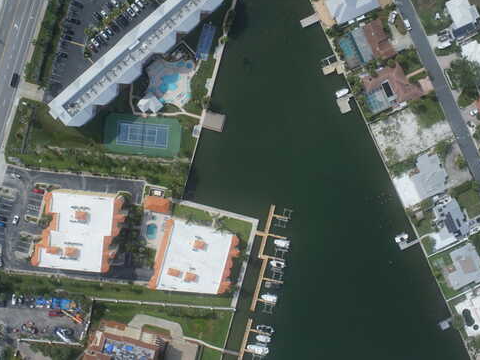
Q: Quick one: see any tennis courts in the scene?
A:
Yes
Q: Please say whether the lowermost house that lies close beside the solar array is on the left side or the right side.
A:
right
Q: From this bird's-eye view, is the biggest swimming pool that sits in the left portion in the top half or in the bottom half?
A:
top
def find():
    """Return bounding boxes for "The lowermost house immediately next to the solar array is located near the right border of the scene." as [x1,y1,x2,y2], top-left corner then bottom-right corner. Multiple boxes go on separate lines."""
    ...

[447,243,480,291]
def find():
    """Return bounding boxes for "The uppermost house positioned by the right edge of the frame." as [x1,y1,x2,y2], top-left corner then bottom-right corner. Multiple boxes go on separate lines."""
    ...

[445,0,480,29]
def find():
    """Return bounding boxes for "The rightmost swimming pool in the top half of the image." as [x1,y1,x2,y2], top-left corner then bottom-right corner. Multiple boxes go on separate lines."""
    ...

[369,95,389,112]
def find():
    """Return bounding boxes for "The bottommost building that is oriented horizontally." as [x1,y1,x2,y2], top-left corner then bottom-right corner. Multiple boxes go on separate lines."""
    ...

[88,327,170,360]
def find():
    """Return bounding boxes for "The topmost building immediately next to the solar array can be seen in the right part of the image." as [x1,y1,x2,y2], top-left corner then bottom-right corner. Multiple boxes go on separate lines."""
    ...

[411,153,448,200]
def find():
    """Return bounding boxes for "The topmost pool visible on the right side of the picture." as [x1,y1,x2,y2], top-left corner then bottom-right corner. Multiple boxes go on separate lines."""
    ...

[339,36,356,59]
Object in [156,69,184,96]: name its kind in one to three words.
swimming pool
